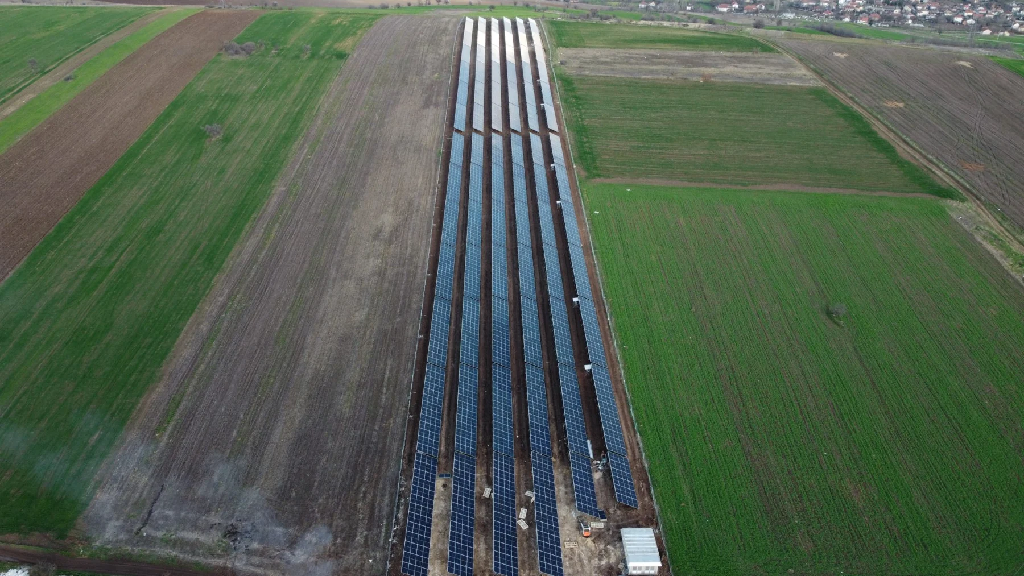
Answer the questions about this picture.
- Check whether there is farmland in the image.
Yes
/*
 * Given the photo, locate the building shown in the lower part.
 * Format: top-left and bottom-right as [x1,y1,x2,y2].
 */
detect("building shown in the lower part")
[622,529,661,576]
